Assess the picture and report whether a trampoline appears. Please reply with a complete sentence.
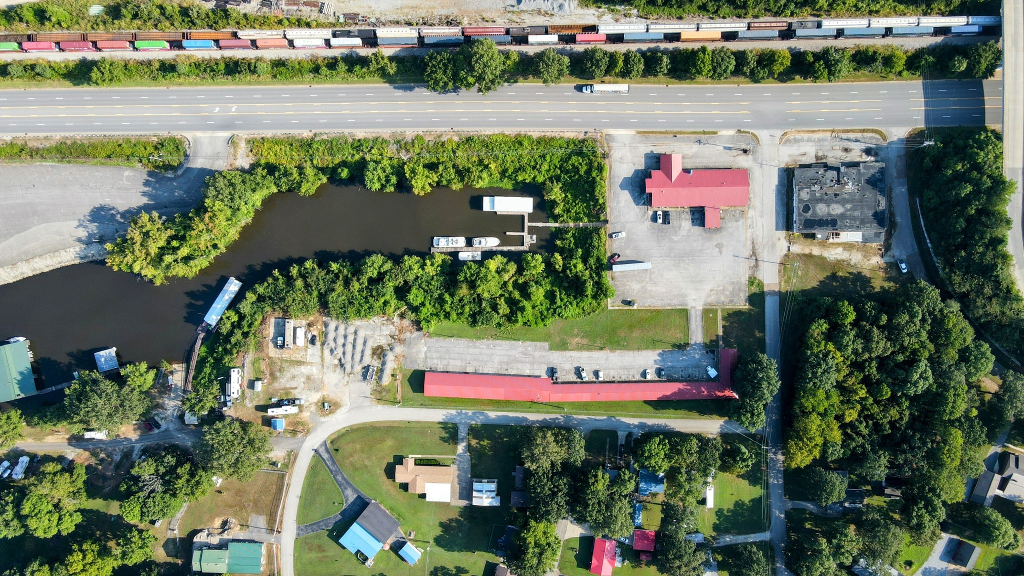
No, there's no trampoline here.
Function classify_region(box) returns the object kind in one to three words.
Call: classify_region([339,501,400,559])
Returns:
house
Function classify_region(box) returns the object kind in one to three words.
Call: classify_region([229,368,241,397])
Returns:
vehicle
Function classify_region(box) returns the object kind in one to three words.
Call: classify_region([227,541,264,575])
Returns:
building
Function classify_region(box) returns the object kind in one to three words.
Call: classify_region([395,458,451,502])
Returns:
house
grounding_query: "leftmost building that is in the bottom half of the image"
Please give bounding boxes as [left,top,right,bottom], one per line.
[0,339,44,406]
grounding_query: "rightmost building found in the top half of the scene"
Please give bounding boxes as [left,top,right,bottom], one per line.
[791,162,886,244]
